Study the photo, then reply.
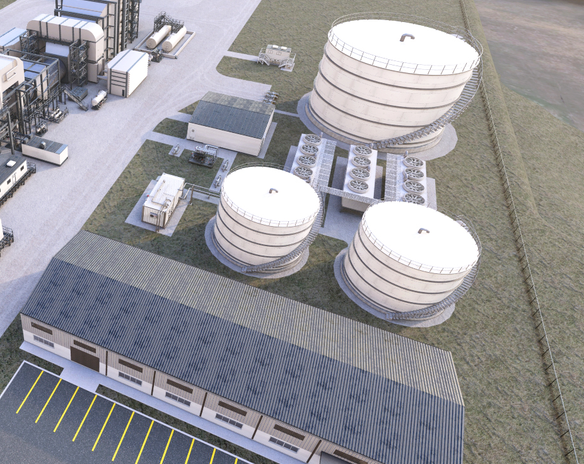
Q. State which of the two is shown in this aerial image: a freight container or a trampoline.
freight container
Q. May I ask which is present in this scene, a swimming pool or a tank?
tank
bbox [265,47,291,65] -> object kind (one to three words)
building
